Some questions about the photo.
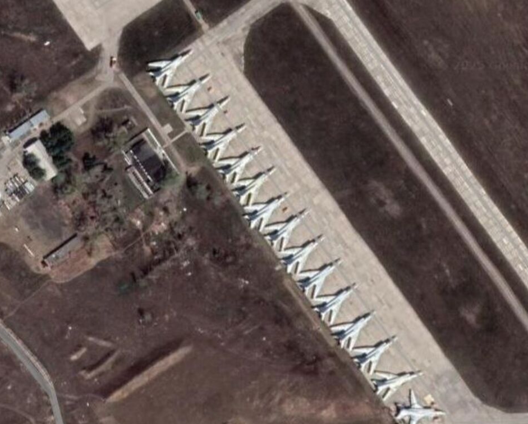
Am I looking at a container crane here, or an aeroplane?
aeroplane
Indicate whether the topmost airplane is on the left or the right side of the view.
left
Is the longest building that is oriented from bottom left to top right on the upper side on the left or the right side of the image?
left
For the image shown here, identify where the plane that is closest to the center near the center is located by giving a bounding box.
[243,193,287,230]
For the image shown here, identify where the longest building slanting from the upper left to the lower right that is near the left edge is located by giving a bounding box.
[26,140,59,181]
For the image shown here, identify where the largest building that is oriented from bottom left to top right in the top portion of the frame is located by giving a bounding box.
[9,110,49,138]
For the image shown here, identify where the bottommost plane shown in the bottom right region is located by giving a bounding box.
[396,392,443,424]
